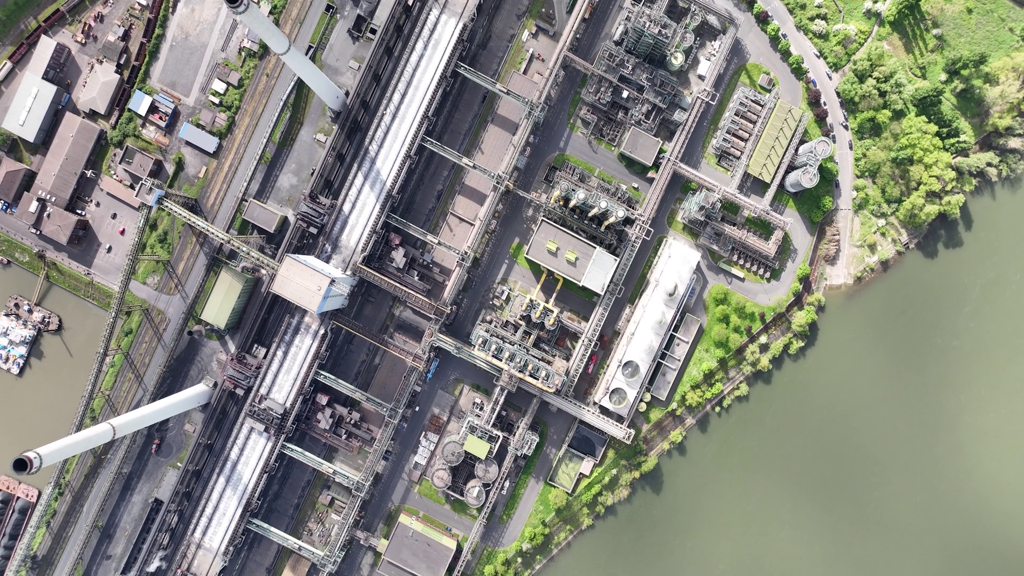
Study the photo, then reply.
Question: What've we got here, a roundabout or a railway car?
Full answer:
This aerial view contains a railway car.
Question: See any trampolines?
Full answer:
No, the picture doesn't show any trampoline.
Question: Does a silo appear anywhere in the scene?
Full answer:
Yes, I can see a silo in this picture.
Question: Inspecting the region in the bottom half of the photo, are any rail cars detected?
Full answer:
No, there is no rail car in the bottom half of the photo.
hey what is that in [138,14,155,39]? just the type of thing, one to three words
rail car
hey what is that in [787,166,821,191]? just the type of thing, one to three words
silo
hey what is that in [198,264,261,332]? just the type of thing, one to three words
building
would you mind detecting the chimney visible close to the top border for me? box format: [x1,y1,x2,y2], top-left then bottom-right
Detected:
[223,0,350,113]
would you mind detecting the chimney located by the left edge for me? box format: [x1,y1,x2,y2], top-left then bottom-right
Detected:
[10,383,219,475]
